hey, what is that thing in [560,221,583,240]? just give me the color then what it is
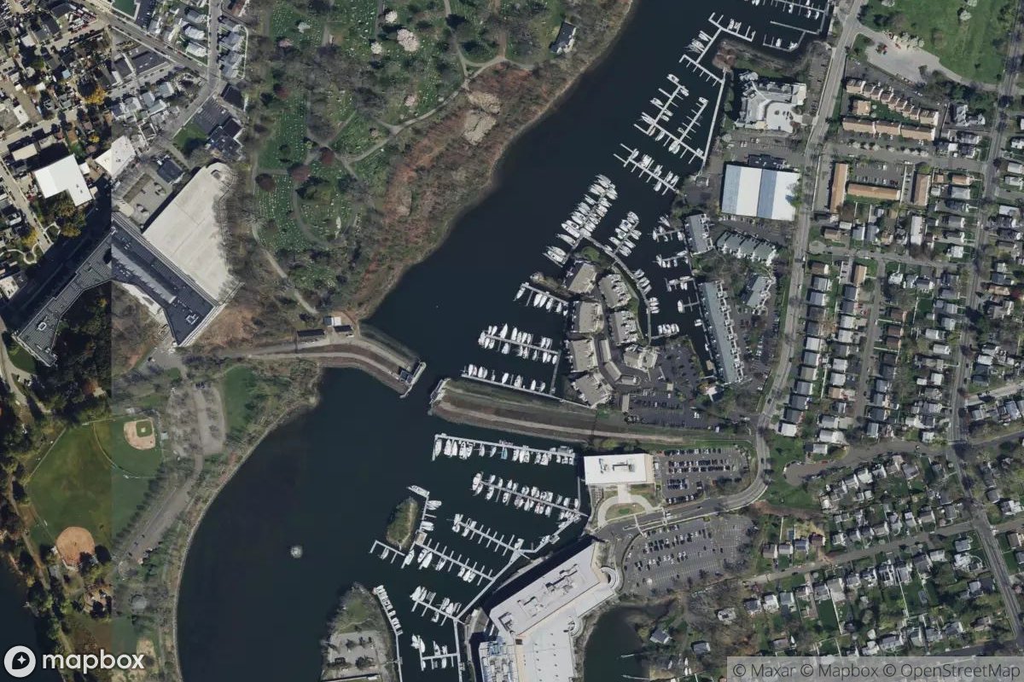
white boat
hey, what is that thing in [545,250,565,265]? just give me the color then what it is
white boat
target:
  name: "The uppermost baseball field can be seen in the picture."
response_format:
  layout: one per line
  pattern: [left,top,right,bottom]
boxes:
[81,415,163,478]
